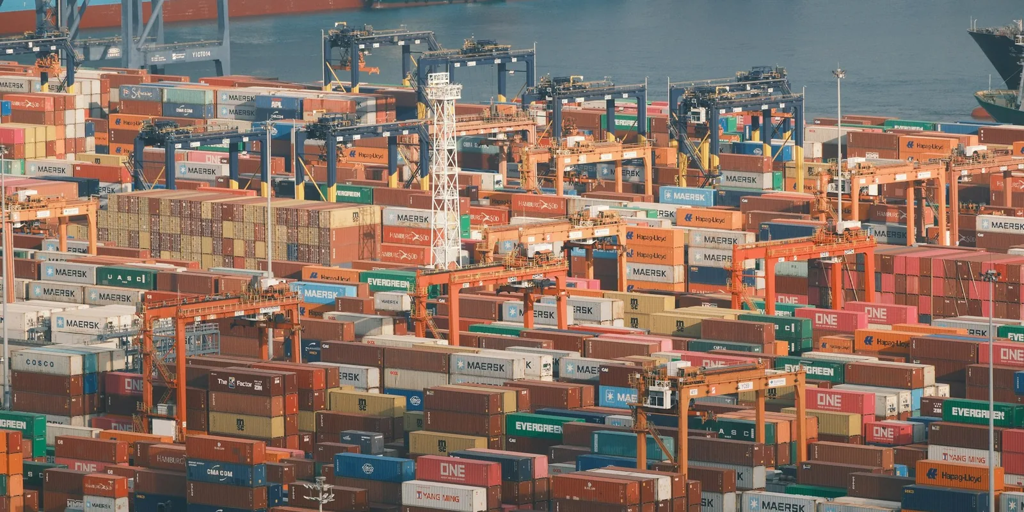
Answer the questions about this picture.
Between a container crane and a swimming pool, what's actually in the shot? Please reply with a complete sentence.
There is a container crane in the scene.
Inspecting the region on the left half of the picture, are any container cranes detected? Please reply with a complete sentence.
Yes, there is a container crane on the left half of the picture.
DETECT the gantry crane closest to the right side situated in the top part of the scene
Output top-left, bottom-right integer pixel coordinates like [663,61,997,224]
[901,142,1024,254]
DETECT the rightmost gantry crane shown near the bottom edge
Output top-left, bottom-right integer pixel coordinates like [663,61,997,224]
[618,351,807,493]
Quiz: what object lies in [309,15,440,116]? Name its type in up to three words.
container crane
